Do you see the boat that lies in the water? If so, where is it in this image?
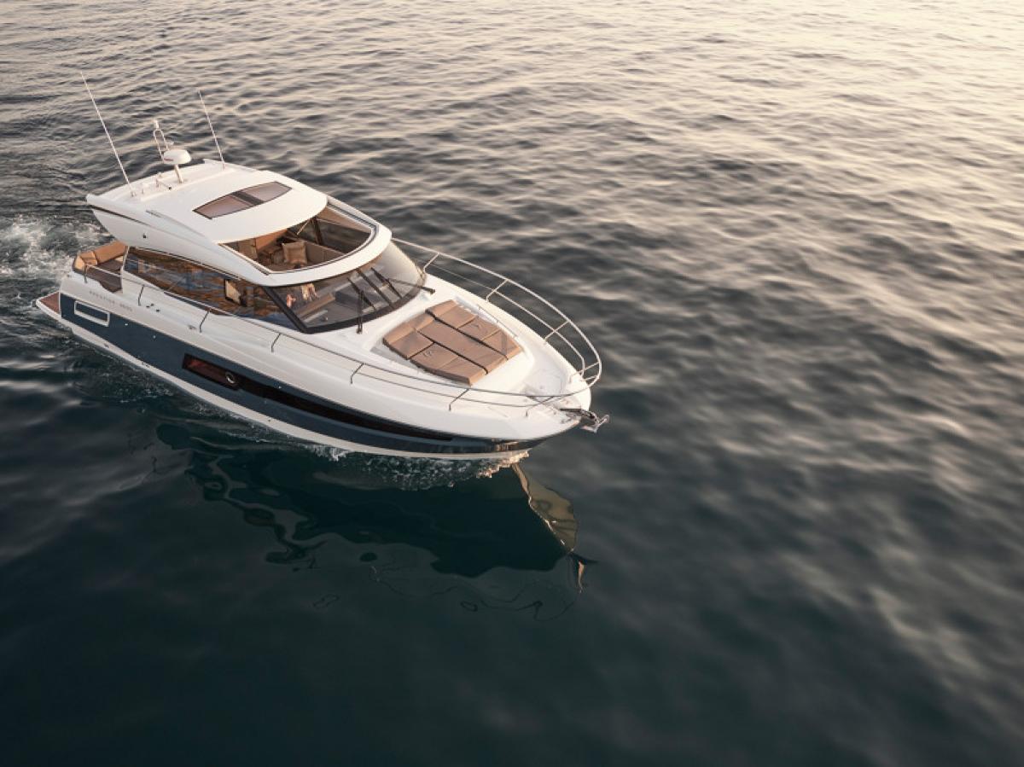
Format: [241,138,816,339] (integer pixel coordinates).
[43,72,604,460]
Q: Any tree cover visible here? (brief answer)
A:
No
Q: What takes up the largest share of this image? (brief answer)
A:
water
